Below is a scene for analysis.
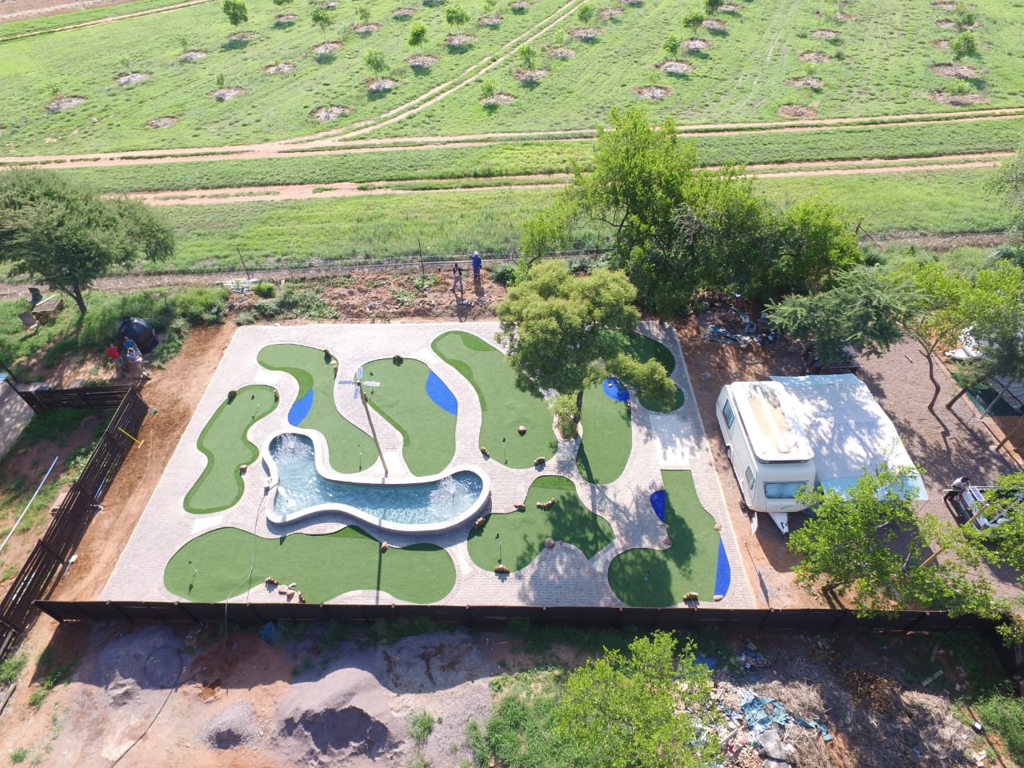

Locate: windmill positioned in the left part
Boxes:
[336,369,387,476]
